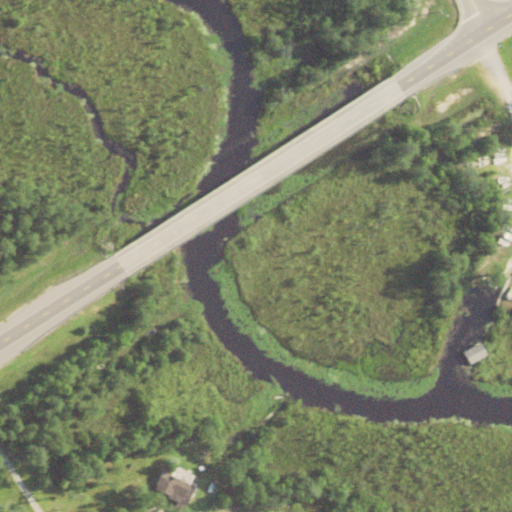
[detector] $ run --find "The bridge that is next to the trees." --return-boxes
[114,72,408,276]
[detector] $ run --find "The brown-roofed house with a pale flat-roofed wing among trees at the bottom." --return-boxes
[155,466,192,504]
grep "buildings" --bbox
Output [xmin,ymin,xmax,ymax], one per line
[465,343,488,364]
[155,466,192,504]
